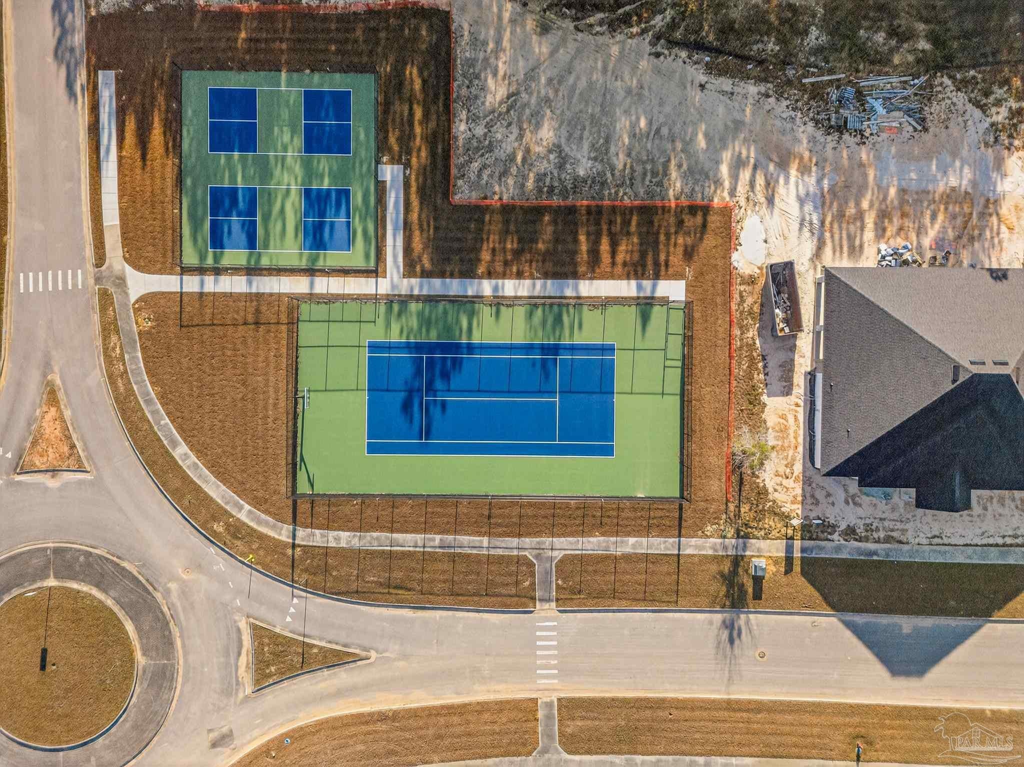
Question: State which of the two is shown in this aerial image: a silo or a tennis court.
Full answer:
Looking from above, you can make out a tennis court.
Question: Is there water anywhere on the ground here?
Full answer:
No, the picture contains no water.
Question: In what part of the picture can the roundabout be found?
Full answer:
You can find the roundabout in the bottom left area of the picture.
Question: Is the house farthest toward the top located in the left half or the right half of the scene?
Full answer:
The house farthest toward the top is on the right side of the image.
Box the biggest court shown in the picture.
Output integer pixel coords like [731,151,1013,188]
[296,303,686,499]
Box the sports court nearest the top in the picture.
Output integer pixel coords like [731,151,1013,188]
[181,71,378,170]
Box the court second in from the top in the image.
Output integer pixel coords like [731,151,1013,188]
[181,170,376,267]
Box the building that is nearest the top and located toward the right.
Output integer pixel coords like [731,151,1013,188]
[807,267,1024,513]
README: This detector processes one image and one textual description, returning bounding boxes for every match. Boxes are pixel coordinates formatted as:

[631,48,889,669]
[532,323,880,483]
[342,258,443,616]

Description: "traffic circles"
[0,539,180,767]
